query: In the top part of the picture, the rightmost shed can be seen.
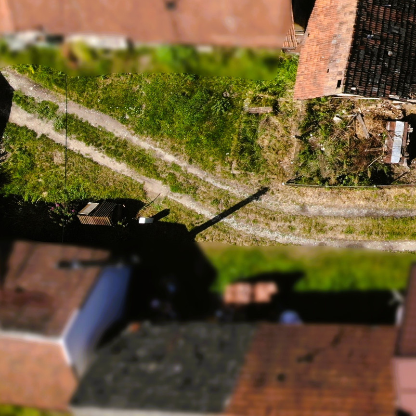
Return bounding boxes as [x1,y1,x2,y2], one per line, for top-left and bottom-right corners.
[380,119,416,169]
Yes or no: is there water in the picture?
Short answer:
No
